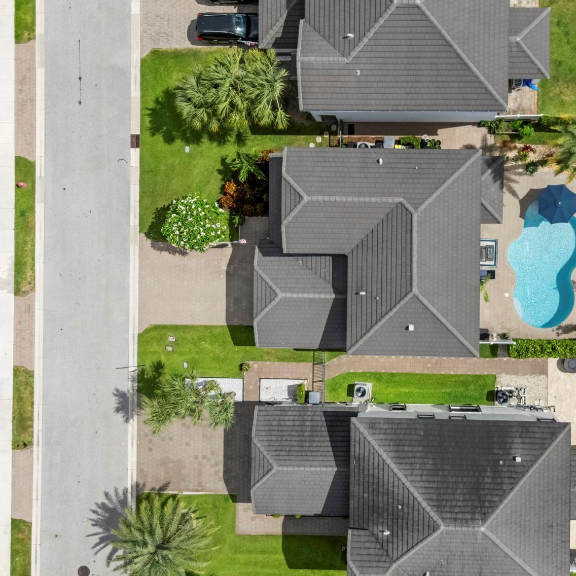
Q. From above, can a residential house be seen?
Yes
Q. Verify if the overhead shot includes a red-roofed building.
No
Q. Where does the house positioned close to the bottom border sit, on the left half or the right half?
right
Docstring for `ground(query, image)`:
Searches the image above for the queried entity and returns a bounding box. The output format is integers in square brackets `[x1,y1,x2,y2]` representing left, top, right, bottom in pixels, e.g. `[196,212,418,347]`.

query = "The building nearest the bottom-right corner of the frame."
[249,402,576,576]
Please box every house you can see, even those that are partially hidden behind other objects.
[249,402,576,576]
[258,0,553,125]
[250,146,505,359]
